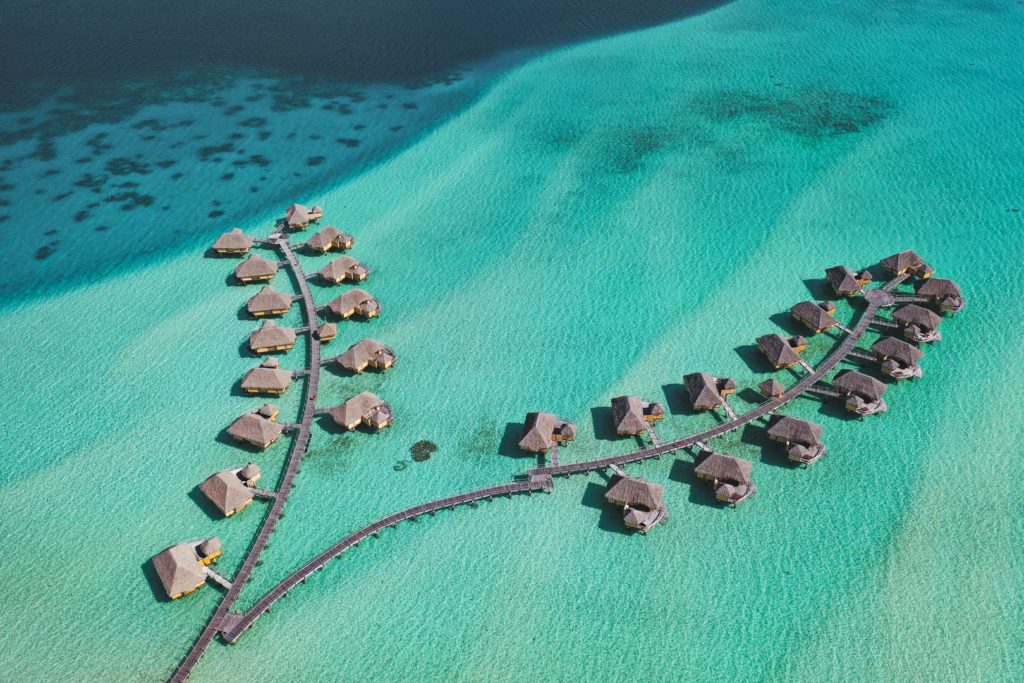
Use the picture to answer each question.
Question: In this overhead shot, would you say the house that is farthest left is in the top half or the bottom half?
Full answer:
You can find the house that is farthest left in the bottom half.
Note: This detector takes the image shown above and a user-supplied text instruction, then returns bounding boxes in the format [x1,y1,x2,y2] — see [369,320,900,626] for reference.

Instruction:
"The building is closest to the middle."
[522,413,577,461]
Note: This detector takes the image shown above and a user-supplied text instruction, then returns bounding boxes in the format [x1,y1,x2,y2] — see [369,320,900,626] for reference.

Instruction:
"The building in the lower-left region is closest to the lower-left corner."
[152,539,224,607]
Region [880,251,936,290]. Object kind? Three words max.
house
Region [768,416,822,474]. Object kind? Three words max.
house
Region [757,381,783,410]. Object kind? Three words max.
shed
